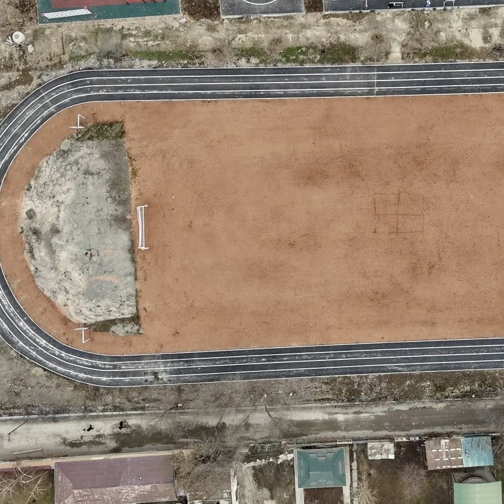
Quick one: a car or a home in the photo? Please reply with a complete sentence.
It is a home that can be seen here.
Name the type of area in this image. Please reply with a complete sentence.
This looks like a sports ground.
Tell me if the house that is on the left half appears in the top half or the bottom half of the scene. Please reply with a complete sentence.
You can find the house that is on the left half in the bottom half.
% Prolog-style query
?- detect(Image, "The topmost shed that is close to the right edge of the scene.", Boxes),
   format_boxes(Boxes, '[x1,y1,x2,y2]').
[423,430,493,470]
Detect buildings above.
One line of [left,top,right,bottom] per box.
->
[367,437,395,460]
[450,475,502,504]
[55,449,178,504]
[423,430,493,470]
[297,443,346,488]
